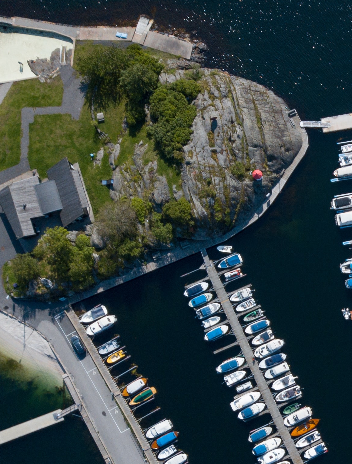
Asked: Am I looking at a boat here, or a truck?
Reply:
boat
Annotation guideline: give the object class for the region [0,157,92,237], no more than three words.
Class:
building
